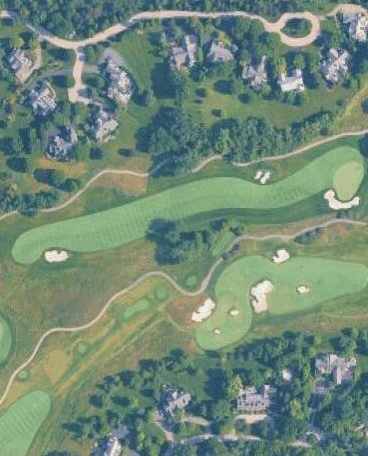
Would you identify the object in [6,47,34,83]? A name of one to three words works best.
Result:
house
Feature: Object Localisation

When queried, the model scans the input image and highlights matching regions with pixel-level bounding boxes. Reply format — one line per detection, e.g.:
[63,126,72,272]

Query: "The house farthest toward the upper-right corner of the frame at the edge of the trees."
[342,11,368,42]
